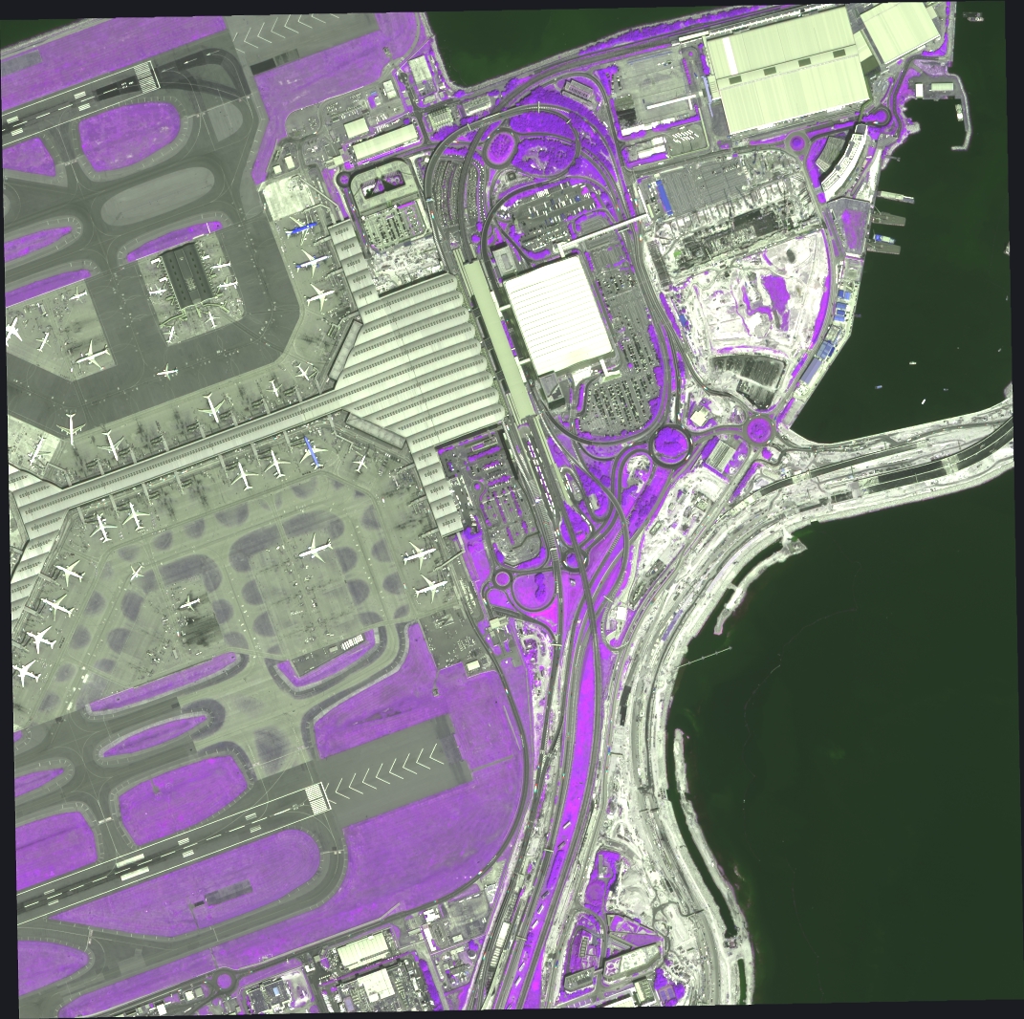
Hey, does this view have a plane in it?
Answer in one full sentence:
Yes, there's a plane down there.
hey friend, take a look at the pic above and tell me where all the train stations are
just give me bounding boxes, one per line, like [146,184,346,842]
[453,248,536,423]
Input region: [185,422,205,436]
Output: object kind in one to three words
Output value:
jet bridge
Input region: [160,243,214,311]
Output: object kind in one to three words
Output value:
building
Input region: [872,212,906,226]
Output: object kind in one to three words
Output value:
pier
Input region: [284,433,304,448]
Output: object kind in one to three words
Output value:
jet bridge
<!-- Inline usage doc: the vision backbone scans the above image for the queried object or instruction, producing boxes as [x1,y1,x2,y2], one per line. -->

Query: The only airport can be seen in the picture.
[0,0,522,1019]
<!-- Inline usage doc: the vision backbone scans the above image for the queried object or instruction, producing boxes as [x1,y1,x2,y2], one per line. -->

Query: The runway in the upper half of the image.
[0,59,161,147]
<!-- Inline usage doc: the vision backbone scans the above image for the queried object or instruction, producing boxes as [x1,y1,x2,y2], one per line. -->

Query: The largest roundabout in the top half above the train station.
[483,127,519,169]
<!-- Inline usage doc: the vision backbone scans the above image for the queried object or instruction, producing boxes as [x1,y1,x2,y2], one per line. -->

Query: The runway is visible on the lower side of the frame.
[0,781,332,933]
